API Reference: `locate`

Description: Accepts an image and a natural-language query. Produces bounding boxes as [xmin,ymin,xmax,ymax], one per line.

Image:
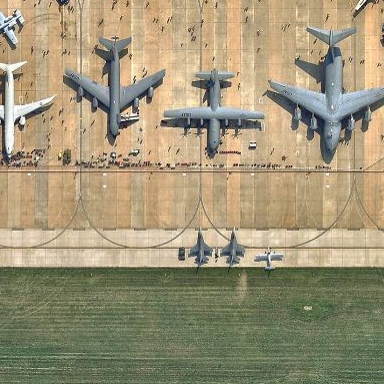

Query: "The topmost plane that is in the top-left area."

[0,9,24,45]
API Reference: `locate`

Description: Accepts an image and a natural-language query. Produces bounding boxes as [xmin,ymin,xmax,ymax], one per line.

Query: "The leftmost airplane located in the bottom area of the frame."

[189,228,213,266]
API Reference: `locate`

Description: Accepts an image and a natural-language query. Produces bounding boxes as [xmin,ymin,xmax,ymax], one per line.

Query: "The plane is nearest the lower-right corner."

[253,248,283,269]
